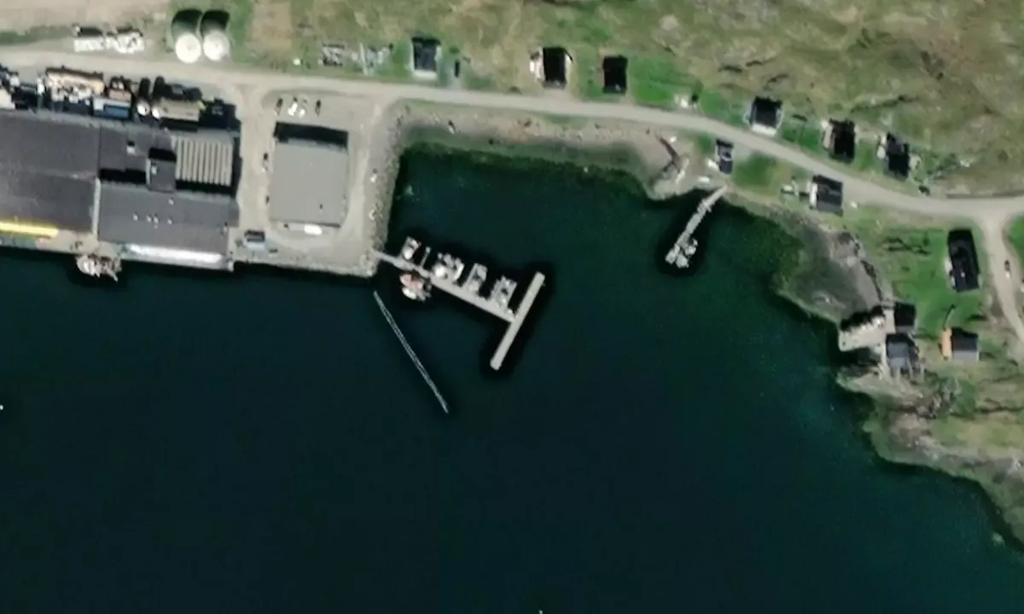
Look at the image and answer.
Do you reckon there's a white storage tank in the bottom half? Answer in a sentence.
No, no white storage tank can be made out in the bottom half.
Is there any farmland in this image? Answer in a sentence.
No, the scene doesn't show any farmland.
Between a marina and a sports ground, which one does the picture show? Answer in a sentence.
This image shows a marina.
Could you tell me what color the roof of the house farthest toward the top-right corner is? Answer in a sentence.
The color of the roof on the house farthest toward the top-right corner is black.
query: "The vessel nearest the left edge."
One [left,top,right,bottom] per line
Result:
[78,258,121,280]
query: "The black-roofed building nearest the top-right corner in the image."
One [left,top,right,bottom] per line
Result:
[885,148,910,174]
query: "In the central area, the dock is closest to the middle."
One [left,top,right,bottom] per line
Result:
[376,247,545,371]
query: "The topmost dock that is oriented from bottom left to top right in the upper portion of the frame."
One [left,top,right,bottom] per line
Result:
[665,187,727,262]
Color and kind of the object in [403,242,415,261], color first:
white boat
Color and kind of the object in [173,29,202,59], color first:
white storage tank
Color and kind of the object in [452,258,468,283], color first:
white boat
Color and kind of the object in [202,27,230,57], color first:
white storage tank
